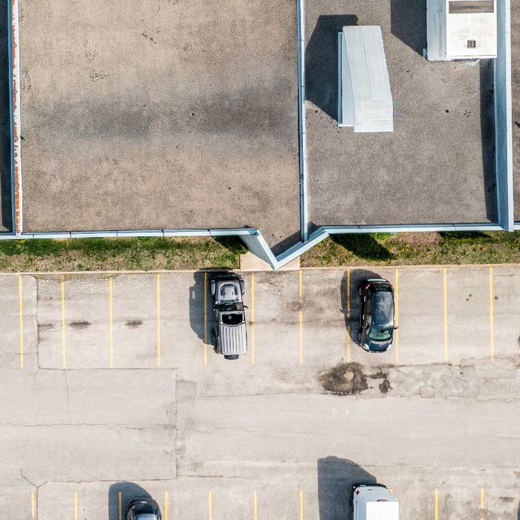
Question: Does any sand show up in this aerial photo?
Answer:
No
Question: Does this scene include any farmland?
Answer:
No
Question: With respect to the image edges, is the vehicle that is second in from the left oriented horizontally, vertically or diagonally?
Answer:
vertically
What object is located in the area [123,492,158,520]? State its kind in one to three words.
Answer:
car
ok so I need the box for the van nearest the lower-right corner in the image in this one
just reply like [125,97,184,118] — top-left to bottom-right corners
[350,480,404,520]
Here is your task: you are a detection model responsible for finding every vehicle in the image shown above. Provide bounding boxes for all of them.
[206,273,249,361]
[350,480,404,520]
[355,277,398,352]
[123,492,158,520]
